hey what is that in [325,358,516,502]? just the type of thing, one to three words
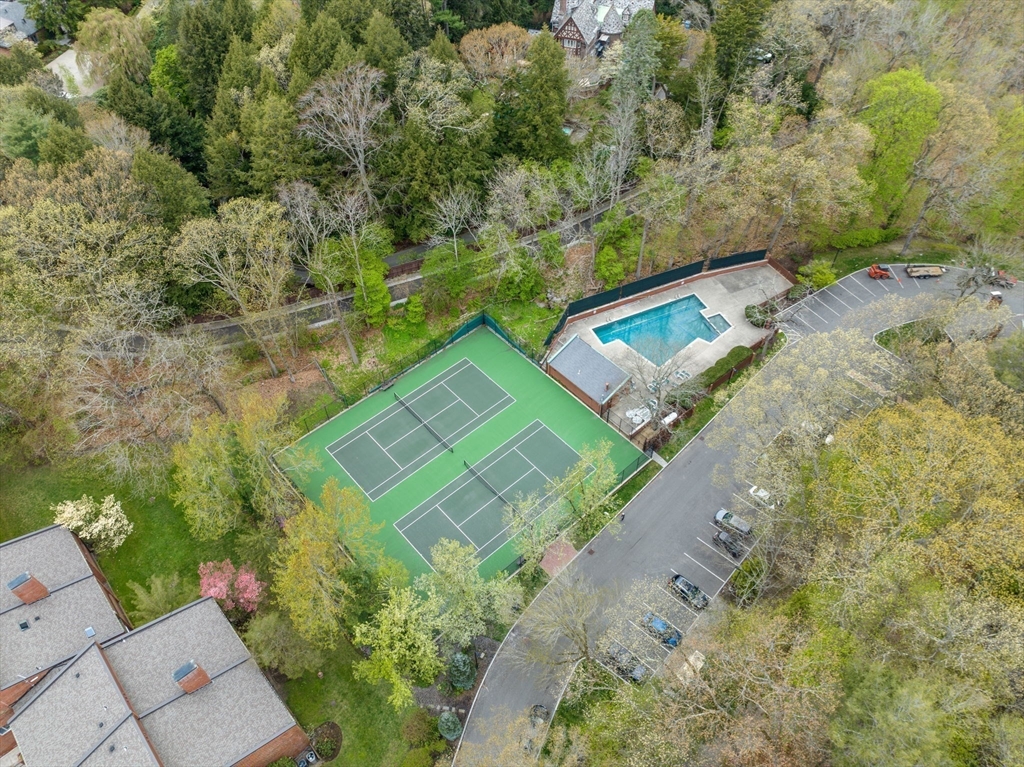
tennis court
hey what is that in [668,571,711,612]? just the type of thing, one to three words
car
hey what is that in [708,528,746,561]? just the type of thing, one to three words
car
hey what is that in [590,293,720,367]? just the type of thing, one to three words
swimming pool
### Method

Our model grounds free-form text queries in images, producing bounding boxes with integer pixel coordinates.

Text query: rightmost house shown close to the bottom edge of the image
[99,599,310,767]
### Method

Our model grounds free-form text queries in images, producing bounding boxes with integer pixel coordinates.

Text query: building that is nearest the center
[544,335,635,413]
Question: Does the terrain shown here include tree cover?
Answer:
Yes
